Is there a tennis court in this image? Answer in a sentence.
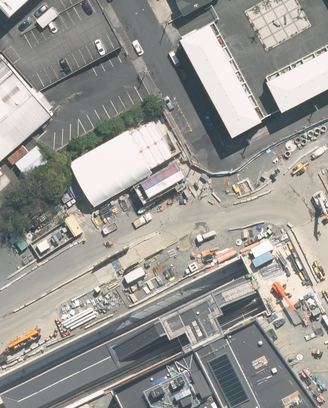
No, I can't see a single tennis court in this photo.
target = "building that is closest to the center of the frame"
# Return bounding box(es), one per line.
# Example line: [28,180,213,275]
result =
[140,160,184,200]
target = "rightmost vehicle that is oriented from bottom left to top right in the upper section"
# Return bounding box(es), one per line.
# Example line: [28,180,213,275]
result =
[308,144,328,162]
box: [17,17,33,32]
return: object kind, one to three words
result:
car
